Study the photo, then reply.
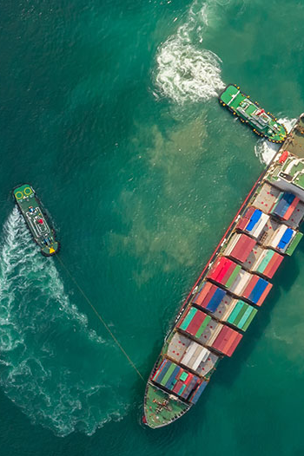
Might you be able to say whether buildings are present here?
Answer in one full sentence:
No, there's no building here.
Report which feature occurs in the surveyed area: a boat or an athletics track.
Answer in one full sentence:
I can see a boat in this picture.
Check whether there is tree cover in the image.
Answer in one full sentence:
No, no tree cover is visible.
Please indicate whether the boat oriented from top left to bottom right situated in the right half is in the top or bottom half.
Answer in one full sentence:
You can find the boat oriented from top left to bottom right situated in the right half in the top half.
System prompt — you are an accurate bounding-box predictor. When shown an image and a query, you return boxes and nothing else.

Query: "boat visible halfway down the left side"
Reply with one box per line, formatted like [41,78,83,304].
[13,182,60,258]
